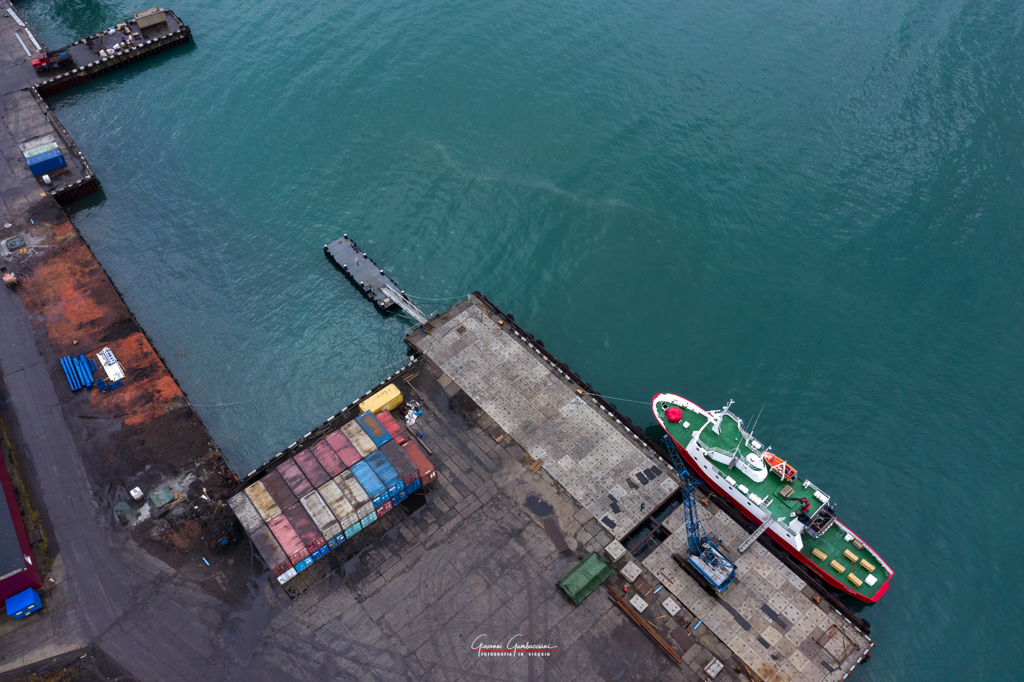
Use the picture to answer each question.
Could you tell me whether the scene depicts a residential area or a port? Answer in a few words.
port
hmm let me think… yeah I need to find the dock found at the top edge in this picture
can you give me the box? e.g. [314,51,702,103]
[34,12,189,99]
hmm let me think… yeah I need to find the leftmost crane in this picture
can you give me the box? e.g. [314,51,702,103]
[645,433,737,598]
